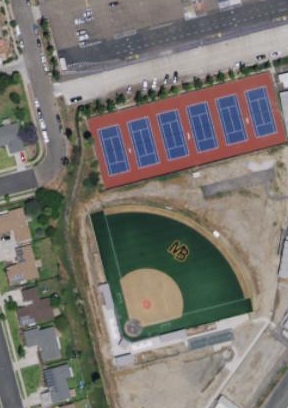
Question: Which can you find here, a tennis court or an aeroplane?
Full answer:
Of the two, only a tennis court appears.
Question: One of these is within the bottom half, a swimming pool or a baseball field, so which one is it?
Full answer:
It is a baseball field that can be seen within the bottom half.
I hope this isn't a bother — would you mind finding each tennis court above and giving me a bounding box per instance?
[246,87,277,138]
[128,118,160,168]
[187,102,218,152]
[158,110,188,160]
[98,125,130,176]
[216,94,248,145]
